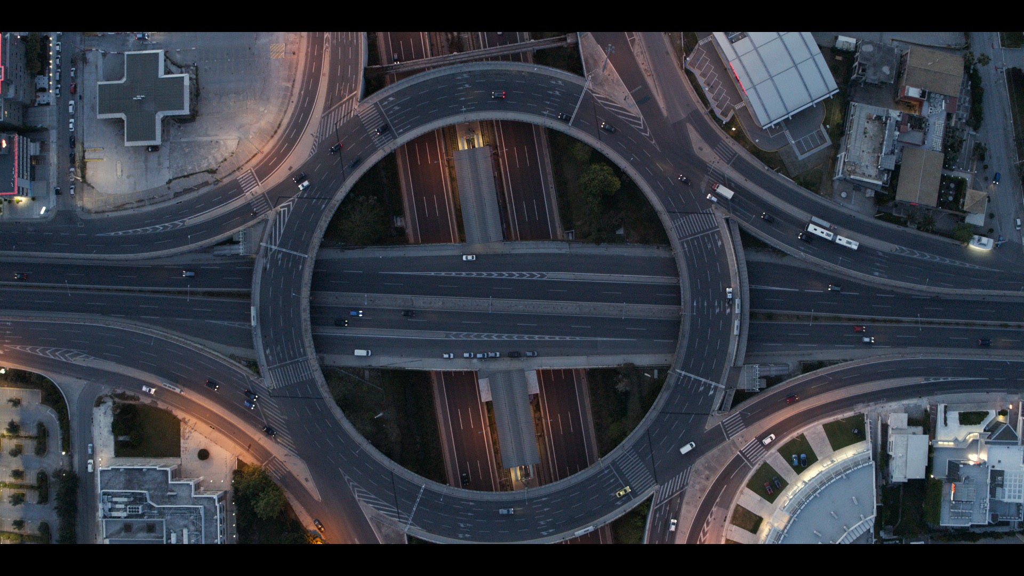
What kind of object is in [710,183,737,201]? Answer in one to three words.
vehicle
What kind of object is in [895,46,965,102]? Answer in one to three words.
house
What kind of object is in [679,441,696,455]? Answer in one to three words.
vehicle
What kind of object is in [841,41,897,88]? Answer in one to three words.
building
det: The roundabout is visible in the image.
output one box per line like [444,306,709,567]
[252,61,738,550]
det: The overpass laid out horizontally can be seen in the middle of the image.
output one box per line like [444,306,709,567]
[315,240,677,370]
